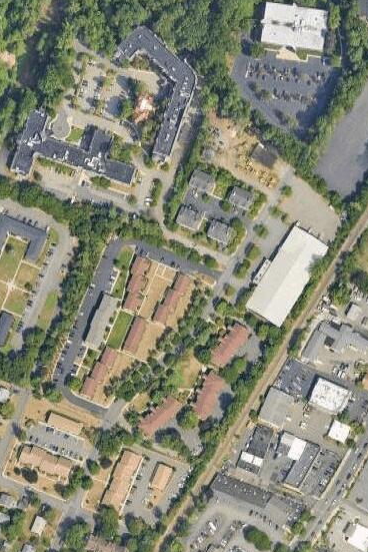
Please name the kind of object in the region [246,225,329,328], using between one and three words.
building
